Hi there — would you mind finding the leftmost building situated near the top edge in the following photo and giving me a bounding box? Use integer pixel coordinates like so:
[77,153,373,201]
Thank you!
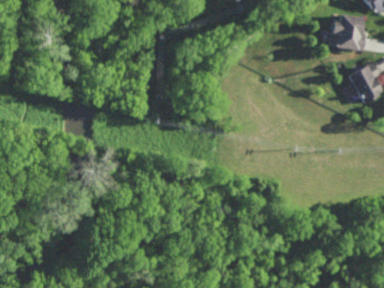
[334,13,368,52]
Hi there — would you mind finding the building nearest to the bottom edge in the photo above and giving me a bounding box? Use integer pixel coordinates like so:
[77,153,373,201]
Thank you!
[350,68,384,106]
